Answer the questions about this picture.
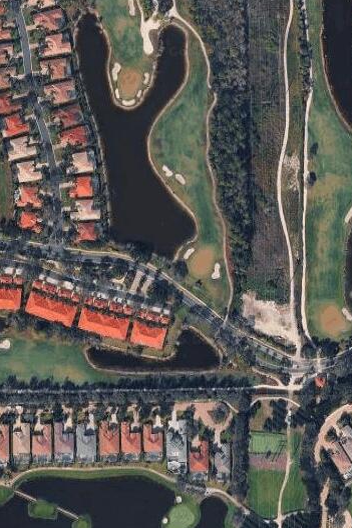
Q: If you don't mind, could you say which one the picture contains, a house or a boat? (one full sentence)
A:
I can see a house in this picture.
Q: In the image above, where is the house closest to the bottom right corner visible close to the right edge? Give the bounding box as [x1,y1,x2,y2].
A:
[331,441,352,478]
